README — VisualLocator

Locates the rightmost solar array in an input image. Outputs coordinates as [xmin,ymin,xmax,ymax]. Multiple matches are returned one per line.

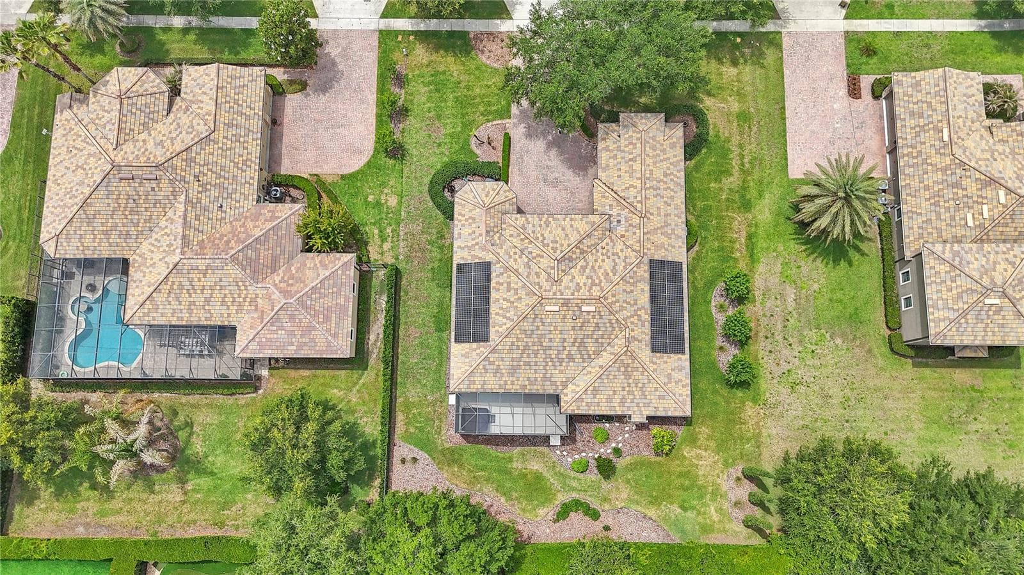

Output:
[652,261,685,353]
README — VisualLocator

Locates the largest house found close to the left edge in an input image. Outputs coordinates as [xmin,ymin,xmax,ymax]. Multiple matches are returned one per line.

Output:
[40,62,356,358]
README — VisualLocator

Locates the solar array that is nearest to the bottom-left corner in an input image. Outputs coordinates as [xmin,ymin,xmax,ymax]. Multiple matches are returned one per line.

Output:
[454,259,489,343]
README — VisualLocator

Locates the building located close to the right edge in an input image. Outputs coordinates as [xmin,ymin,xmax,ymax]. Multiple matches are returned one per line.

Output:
[879,65,1024,358]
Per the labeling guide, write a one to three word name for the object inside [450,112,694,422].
house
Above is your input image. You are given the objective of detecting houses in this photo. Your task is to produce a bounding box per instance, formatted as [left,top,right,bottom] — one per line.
[879,65,1024,358]
[40,62,356,358]
[450,112,694,422]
